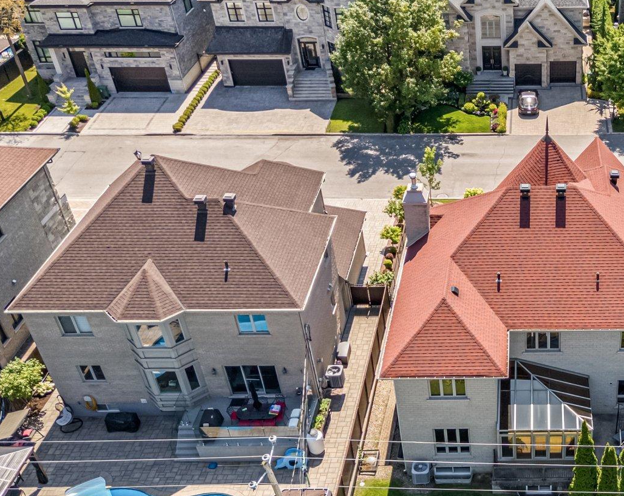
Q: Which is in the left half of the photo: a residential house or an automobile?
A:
residential house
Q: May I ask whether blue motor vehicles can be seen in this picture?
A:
No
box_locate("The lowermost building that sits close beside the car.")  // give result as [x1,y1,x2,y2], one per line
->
[376,119,624,496]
